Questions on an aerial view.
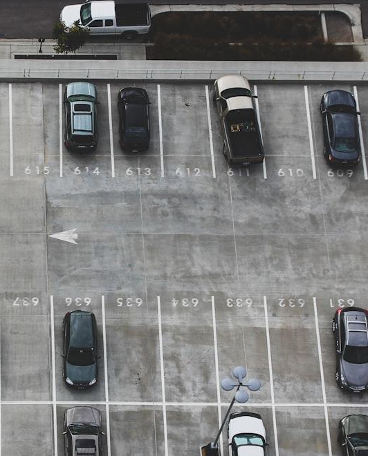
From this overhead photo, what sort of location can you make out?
parking lot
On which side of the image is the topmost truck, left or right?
left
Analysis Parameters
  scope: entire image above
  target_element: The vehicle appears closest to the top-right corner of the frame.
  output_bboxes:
[314,90,359,167]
